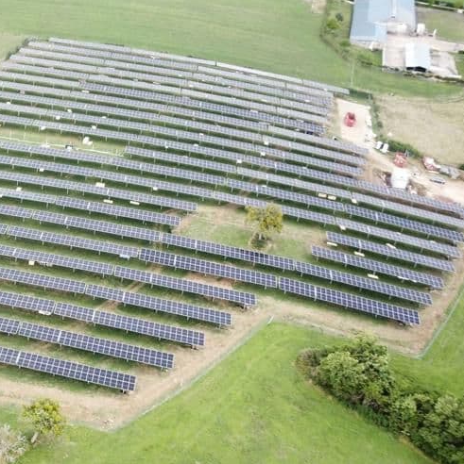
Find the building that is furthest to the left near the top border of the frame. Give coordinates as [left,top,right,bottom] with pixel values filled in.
[349,0,388,54]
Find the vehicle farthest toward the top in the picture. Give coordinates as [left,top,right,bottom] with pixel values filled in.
[345,110,360,125]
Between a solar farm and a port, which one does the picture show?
solar farm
